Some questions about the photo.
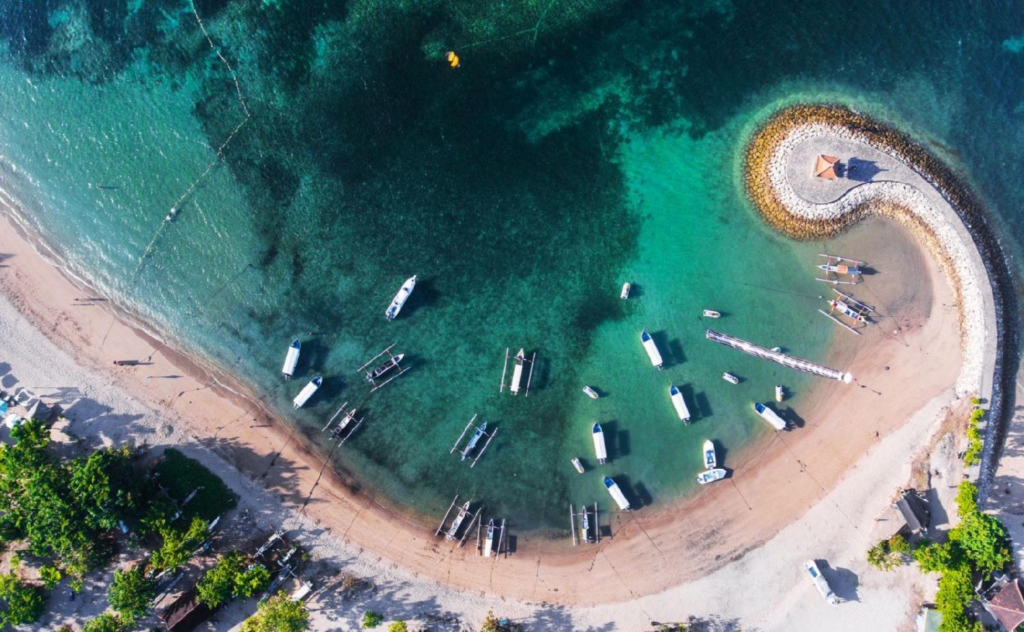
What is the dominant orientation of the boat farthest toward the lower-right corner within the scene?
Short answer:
at an angle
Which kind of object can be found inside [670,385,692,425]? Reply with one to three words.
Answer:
boat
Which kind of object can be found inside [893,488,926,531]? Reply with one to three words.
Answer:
shed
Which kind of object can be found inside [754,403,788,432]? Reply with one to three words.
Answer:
boat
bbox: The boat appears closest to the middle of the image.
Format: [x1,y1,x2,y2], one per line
[501,349,536,396]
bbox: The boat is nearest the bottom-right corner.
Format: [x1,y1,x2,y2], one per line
[807,565,841,609]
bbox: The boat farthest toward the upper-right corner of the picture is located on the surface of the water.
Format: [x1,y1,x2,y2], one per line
[818,254,864,284]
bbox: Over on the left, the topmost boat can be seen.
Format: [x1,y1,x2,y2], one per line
[385,274,416,321]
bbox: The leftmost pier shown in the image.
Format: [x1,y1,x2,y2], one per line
[707,330,844,381]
